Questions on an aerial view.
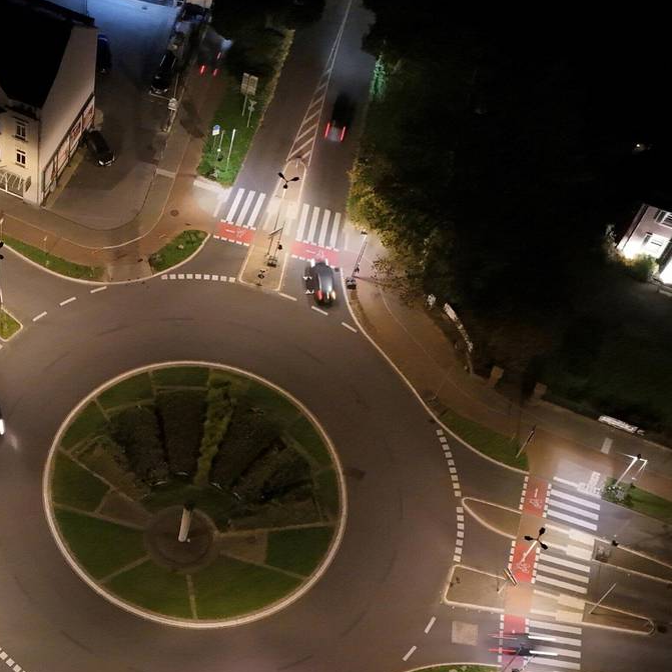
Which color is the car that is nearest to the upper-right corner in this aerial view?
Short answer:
black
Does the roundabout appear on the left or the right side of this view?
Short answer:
left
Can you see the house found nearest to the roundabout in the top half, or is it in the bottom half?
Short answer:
top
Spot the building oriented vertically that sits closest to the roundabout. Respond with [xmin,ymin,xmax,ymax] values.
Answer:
[0,0,95,206]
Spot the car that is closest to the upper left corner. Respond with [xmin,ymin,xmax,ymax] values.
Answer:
[92,31,116,71]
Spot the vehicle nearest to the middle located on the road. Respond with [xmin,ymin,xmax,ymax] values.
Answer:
[307,261,335,304]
